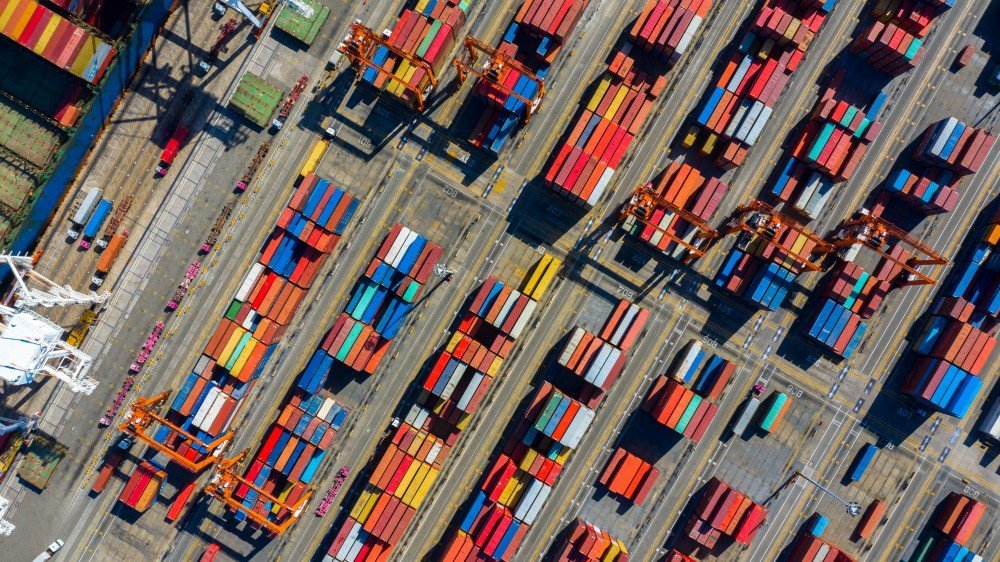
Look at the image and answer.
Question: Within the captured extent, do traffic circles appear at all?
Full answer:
No, no traffic circle is visible in the scene.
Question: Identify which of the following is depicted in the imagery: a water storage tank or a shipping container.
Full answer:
Of the two, only a shipping container appears.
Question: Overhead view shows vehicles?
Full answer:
Yes, the image includes a vehicle.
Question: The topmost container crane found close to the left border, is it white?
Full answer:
Yes, the topmost container crane found close to the left border is white.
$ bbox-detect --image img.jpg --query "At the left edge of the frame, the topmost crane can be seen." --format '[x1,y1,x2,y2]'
[0,245,115,394]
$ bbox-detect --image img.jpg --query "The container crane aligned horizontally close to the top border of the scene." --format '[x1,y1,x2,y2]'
[216,0,308,44]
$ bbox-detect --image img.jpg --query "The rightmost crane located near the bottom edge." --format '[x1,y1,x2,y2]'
[200,443,320,537]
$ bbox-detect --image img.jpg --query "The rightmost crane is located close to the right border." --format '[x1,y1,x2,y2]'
[820,215,951,291]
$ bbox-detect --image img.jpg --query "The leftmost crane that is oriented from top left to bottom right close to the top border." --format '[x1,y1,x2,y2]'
[338,18,444,117]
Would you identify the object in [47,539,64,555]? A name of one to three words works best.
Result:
vehicle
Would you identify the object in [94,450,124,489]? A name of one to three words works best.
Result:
shipping container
